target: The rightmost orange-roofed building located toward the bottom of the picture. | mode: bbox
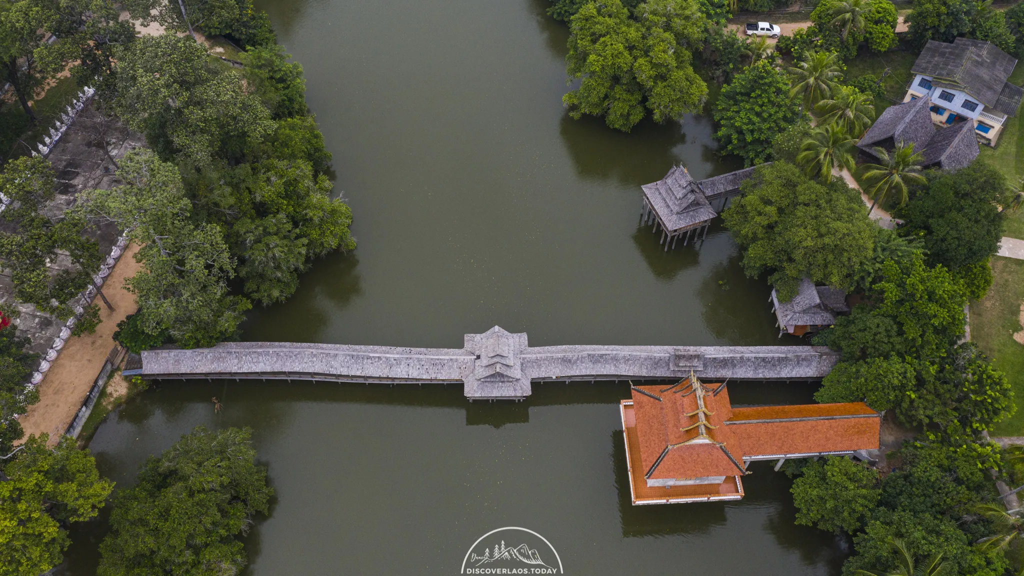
[618,373,753,506]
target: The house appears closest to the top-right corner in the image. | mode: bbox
[903,37,1024,147]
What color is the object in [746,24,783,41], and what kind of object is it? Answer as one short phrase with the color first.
white vehicle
